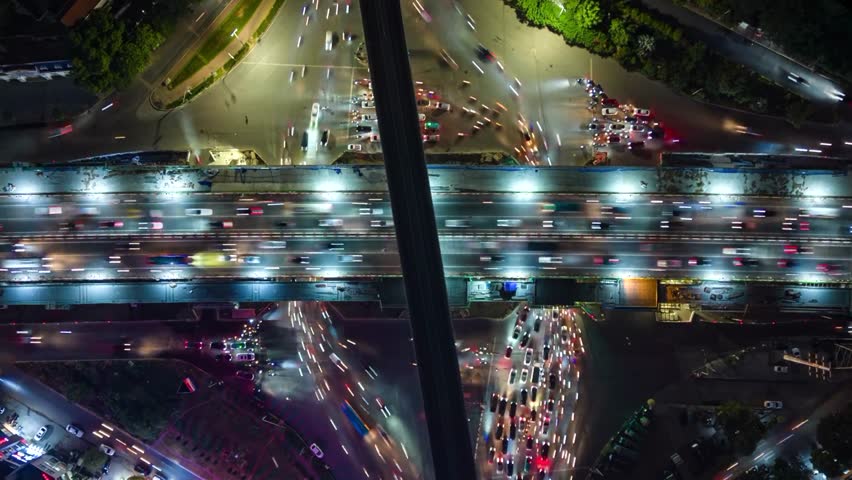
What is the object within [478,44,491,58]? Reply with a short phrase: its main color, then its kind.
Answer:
black vehicle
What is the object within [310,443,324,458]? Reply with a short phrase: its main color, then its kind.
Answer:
purple car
